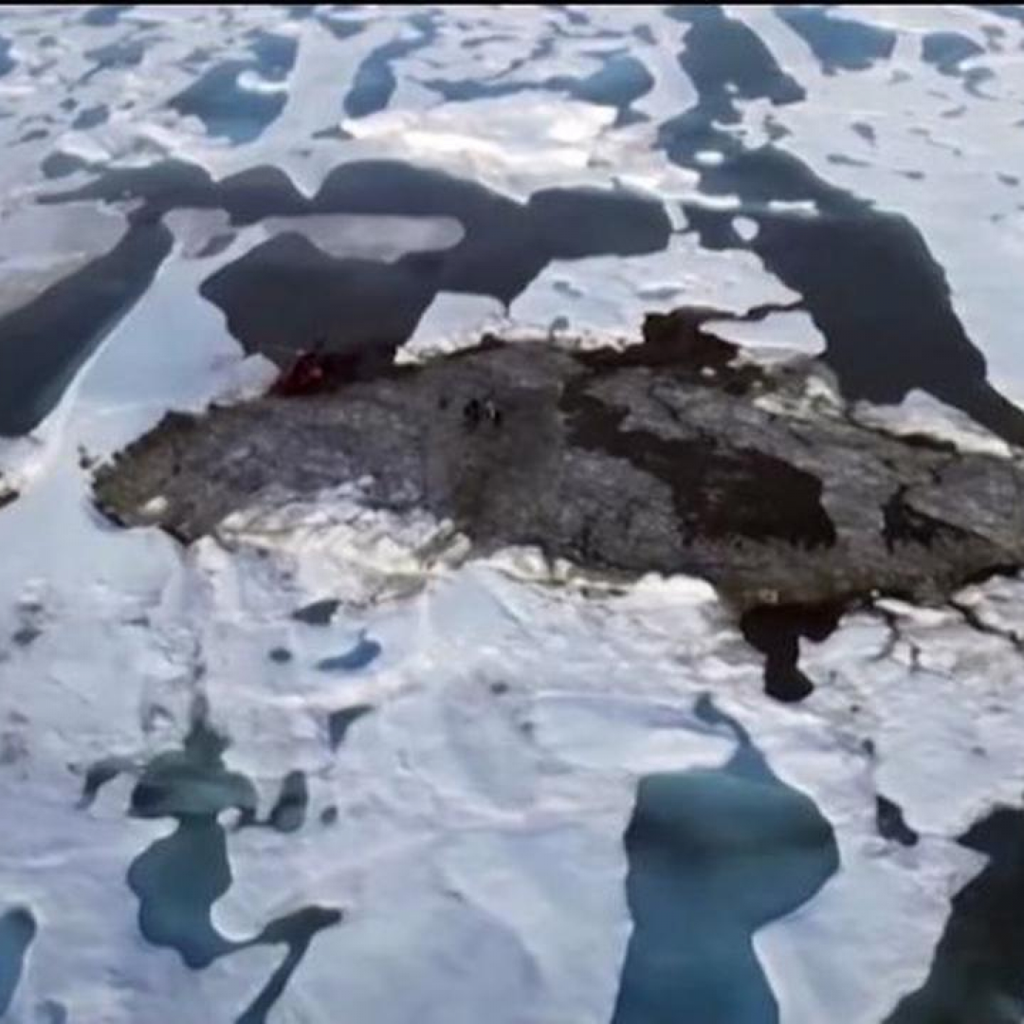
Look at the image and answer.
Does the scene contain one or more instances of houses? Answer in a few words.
No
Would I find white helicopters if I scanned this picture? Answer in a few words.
No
